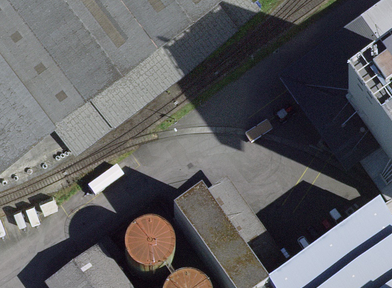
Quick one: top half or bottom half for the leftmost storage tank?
bottom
